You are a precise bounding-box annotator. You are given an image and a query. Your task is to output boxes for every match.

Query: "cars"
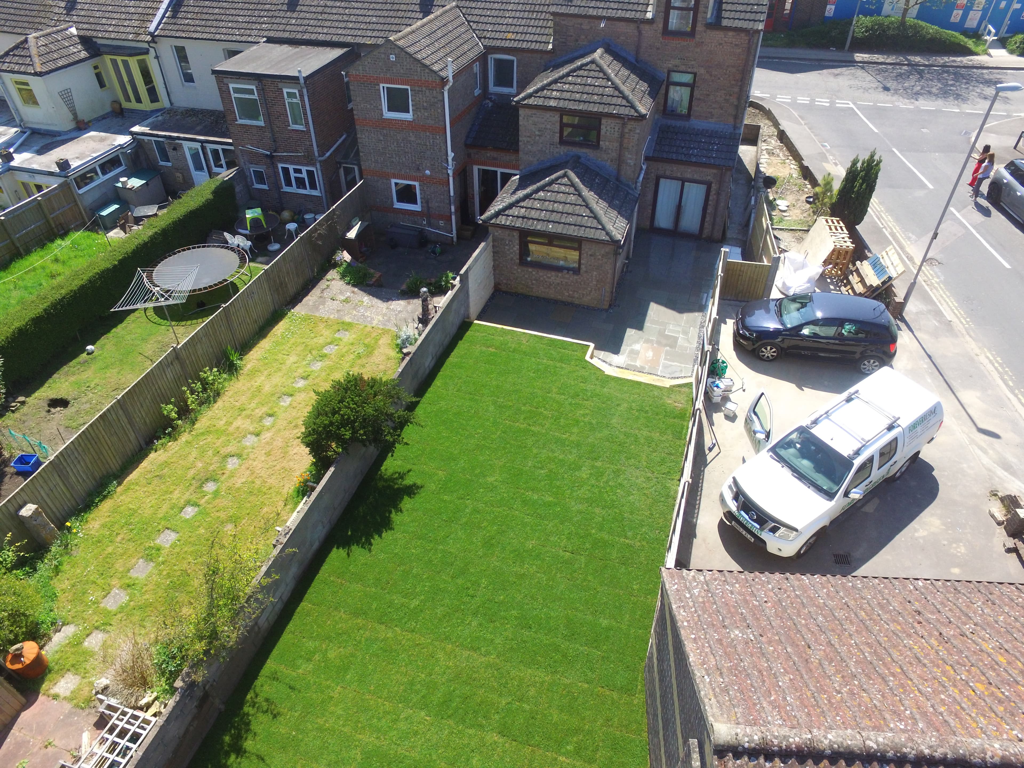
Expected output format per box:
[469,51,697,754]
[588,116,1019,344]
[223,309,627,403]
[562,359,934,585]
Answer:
[738,293,905,375]
[987,162,1024,235]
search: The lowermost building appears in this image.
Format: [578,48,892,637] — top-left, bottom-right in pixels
[652,561,1024,768]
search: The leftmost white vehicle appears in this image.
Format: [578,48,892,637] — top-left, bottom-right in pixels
[715,369,945,566]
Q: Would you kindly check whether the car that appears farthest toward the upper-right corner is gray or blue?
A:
gray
